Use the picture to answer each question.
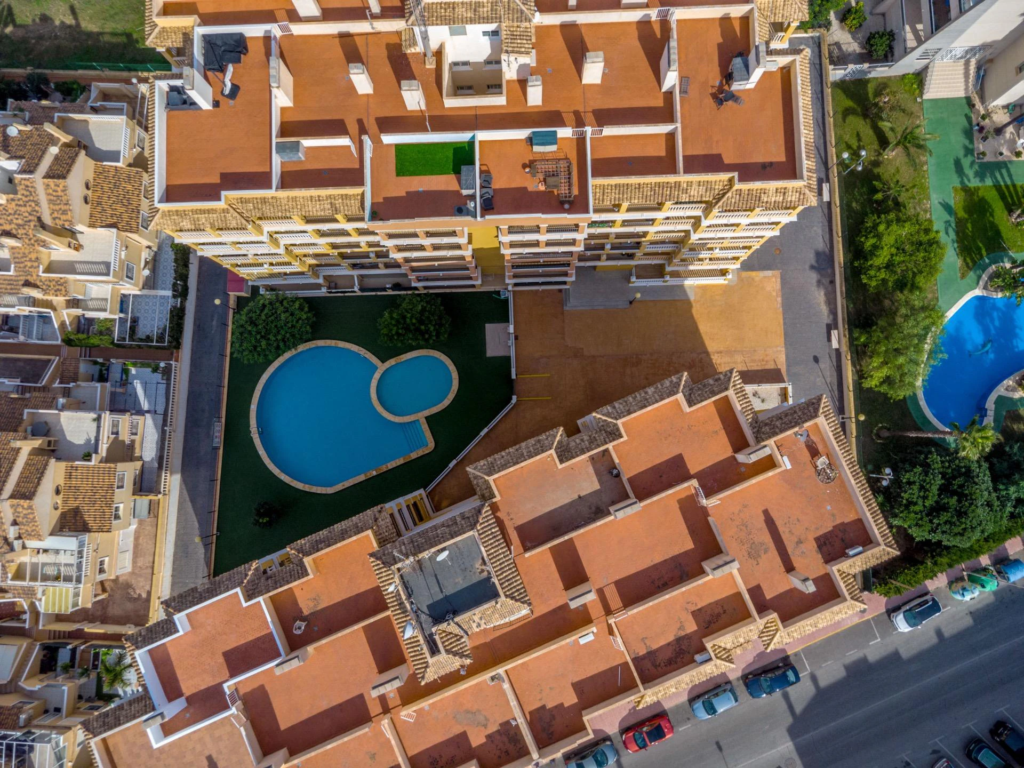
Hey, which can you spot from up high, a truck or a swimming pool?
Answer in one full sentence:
It is a swimming pool that can be seen here.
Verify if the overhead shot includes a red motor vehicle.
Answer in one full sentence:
Yes, the image includes a red motor vehicle.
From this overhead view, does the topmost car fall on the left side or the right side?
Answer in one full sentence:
The topmost car appears in the right half of the scene.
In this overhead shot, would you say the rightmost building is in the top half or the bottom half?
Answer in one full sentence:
You can find the rightmost building in the top half.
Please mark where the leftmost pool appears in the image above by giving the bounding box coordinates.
[250,339,459,493]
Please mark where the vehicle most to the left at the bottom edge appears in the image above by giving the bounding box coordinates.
[564,738,618,768]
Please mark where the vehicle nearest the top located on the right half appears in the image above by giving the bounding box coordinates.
[886,592,946,631]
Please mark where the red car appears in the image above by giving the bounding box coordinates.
[621,712,675,752]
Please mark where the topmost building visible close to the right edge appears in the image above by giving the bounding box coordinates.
[855,0,1024,126]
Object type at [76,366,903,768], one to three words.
building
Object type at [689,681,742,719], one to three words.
car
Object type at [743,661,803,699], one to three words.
car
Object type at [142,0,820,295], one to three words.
building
